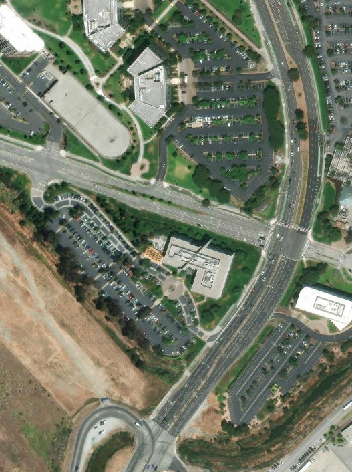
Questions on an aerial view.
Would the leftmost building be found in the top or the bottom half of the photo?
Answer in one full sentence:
The leftmost building sits in the top half of the picture.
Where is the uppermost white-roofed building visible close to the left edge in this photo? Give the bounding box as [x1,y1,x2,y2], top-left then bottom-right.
[0,2,44,62]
